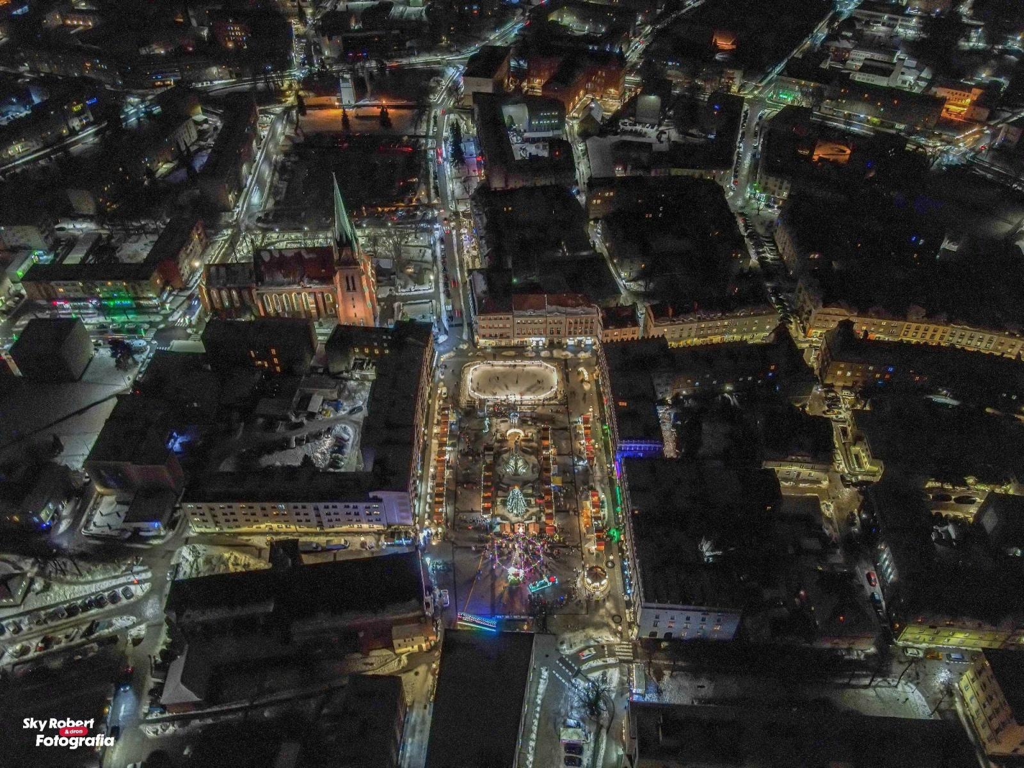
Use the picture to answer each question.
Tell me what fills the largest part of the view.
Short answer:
buildings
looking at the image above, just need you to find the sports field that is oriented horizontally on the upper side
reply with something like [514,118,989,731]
[298,108,425,136]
